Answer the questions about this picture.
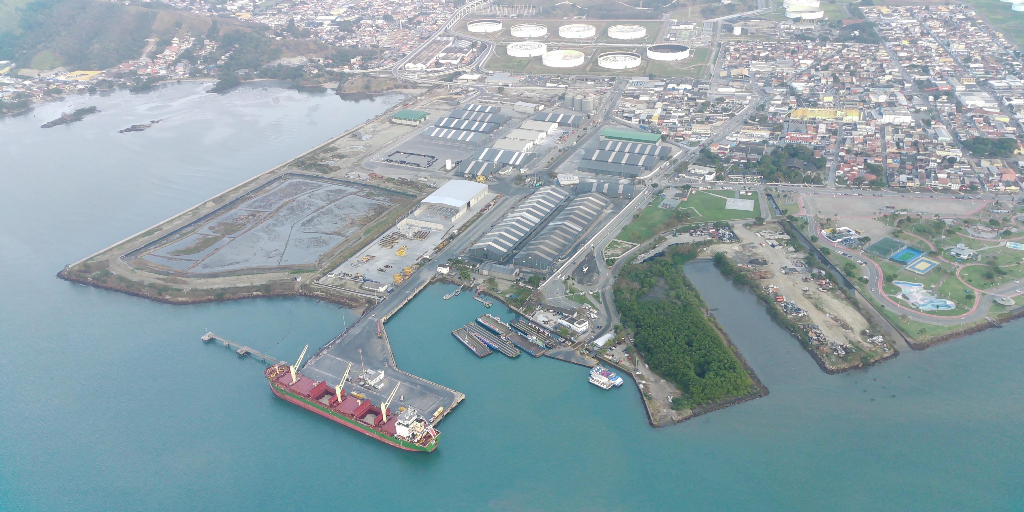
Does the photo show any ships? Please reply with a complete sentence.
Yes, the frame does contain a ship.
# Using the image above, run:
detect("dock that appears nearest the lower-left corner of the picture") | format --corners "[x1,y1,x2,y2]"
[201,332,288,370]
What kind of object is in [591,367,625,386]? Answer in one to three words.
boat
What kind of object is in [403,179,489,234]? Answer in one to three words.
hangar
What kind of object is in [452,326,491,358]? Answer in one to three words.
ship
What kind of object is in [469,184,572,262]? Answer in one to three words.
building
